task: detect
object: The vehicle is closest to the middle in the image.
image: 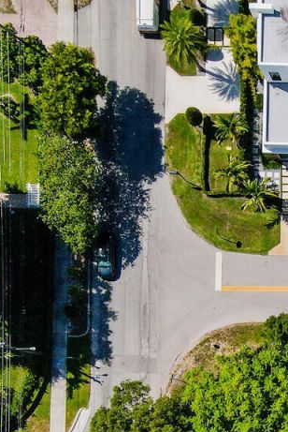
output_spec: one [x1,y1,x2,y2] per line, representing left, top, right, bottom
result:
[97,232,119,279]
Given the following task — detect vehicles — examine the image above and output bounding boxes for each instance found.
[128,0,157,32]
[97,232,119,279]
